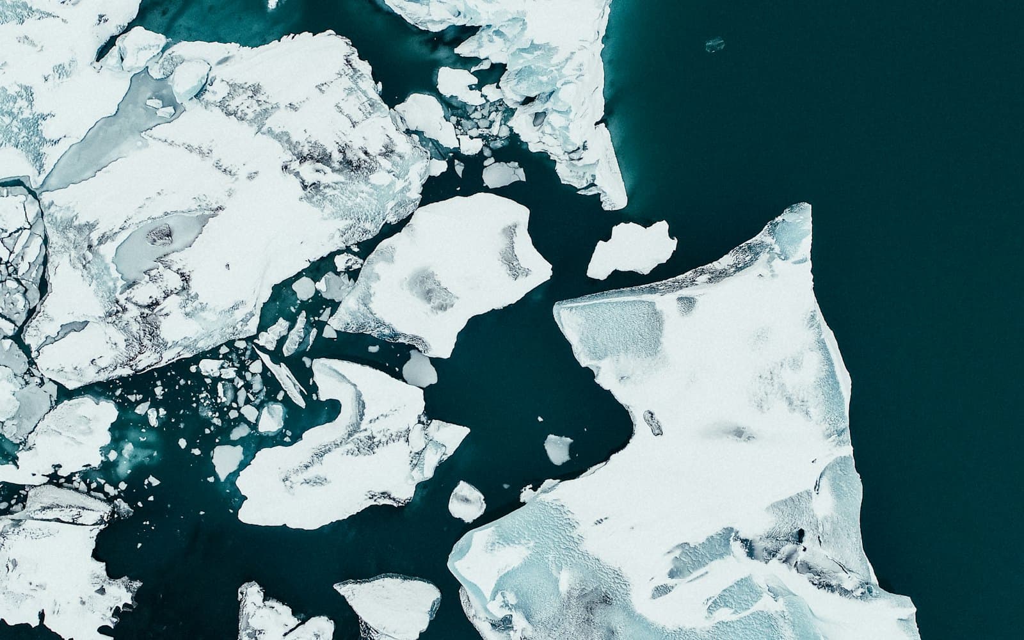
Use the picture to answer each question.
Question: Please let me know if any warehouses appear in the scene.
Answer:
No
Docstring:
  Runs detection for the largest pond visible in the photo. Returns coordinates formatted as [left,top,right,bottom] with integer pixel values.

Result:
[110,212,217,291]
